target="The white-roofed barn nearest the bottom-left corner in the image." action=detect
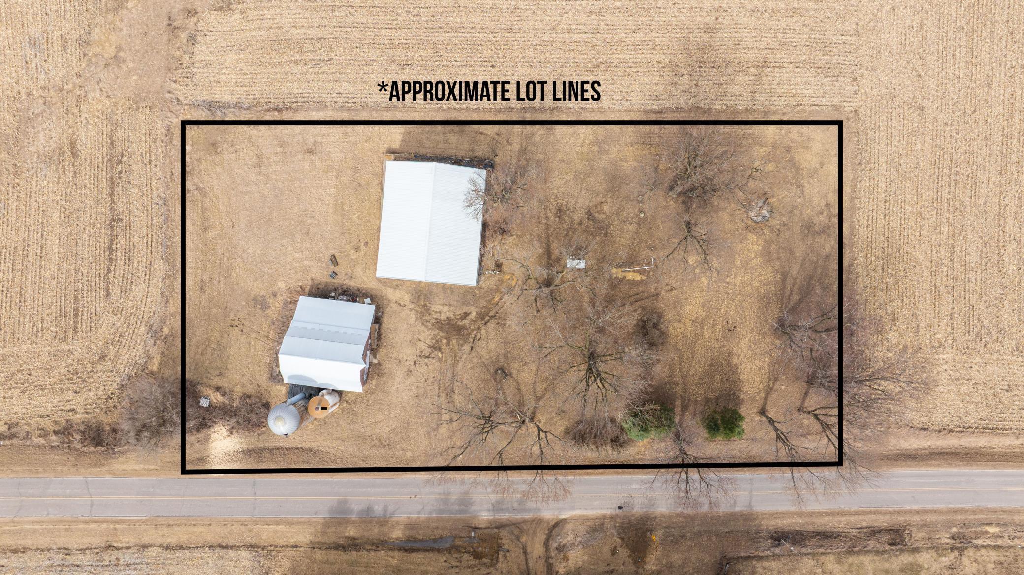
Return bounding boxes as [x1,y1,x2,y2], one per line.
[278,296,375,392]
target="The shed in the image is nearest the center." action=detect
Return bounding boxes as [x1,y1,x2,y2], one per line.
[376,161,487,286]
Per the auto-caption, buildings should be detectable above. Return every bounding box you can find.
[278,296,375,392]
[376,161,487,286]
